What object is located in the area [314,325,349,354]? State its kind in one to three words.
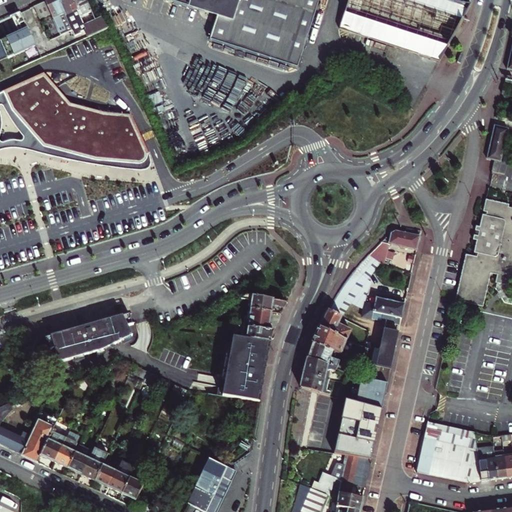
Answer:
house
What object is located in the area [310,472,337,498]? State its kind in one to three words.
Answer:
building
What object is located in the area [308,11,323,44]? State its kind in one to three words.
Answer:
vehicle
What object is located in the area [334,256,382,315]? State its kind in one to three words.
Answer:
shed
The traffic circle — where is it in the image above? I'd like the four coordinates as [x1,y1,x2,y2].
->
[292,163,372,243]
